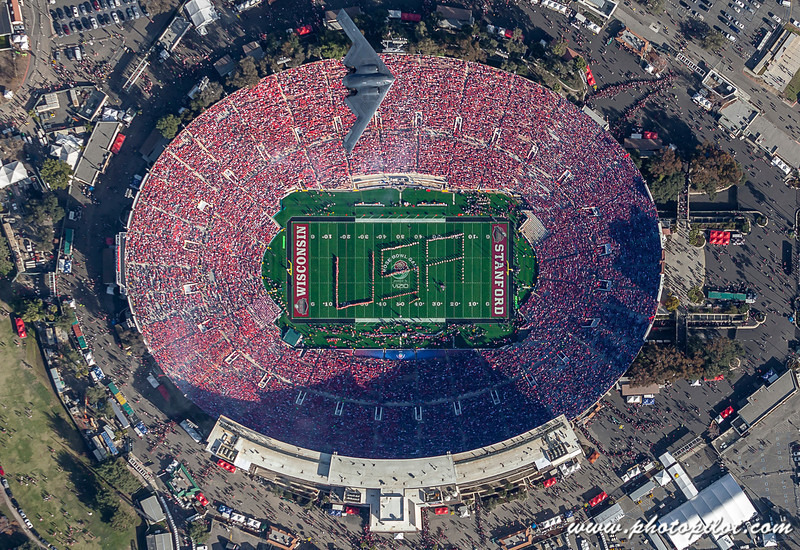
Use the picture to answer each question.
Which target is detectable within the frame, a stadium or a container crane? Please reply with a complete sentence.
It is a stadium that can be seen here.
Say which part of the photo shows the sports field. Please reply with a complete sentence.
The sports field sits in the center section of the image.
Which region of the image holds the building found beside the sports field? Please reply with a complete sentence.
Look in the bottom portion of the view to spot the building found beside the sports field.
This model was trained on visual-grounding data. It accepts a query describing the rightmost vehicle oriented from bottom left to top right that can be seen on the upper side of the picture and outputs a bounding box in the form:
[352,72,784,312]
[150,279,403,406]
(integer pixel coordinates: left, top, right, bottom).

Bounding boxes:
[757,29,773,52]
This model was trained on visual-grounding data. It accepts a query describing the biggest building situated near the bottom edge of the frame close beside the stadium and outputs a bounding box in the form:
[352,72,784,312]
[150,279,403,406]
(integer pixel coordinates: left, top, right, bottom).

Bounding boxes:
[208,413,580,530]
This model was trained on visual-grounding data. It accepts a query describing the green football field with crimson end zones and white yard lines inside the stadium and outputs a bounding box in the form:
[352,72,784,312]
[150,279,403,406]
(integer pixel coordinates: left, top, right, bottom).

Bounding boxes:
[262,188,537,348]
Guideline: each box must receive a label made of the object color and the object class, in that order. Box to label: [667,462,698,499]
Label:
white tent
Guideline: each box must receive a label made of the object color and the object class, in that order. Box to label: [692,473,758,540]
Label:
white tent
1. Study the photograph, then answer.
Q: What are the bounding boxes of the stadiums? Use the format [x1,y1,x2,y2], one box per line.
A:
[125,52,665,456]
